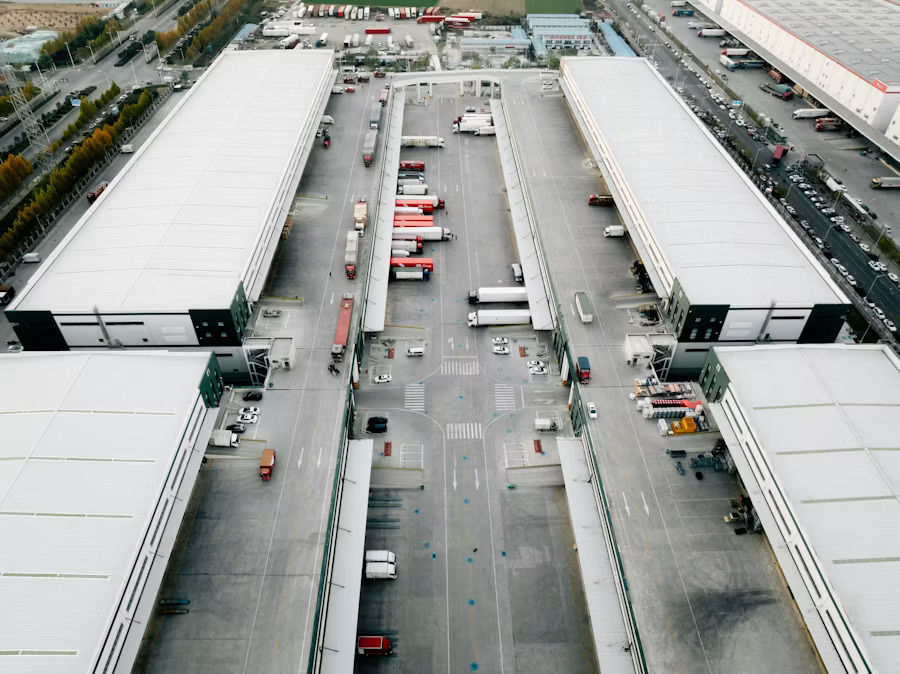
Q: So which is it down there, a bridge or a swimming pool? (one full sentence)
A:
I can see a bridge in this picture.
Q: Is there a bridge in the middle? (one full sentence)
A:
No, the scene shows no bridge in the middle.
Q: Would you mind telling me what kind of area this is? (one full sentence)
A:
This looks like an industrial area.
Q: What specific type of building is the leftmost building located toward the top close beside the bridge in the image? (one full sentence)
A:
In the photo, the leftmost building located toward the top close beside the bridge shows up as a warehouse.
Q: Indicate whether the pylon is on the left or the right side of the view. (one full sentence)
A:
The pylon sits on the left side.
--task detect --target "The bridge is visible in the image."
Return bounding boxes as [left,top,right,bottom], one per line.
[339,69,552,101]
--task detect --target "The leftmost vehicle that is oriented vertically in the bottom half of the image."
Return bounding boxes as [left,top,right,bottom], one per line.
[258,446,278,479]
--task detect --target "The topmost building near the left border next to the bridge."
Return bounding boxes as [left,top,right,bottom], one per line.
[4,51,343,375]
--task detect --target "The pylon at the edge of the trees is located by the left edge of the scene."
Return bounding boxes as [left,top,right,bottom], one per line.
[0,36,56,175]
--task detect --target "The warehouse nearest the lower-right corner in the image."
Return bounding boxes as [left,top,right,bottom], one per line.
[699,344,900,674]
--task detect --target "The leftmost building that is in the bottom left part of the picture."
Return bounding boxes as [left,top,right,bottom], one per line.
[0,350,223,674]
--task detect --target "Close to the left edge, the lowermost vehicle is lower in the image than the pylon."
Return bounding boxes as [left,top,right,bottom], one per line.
[0,282,23,307]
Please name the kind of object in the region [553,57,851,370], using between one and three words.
warehouse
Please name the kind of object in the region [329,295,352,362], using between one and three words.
truck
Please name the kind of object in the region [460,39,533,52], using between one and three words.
building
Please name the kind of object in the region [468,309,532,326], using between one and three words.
vehicle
